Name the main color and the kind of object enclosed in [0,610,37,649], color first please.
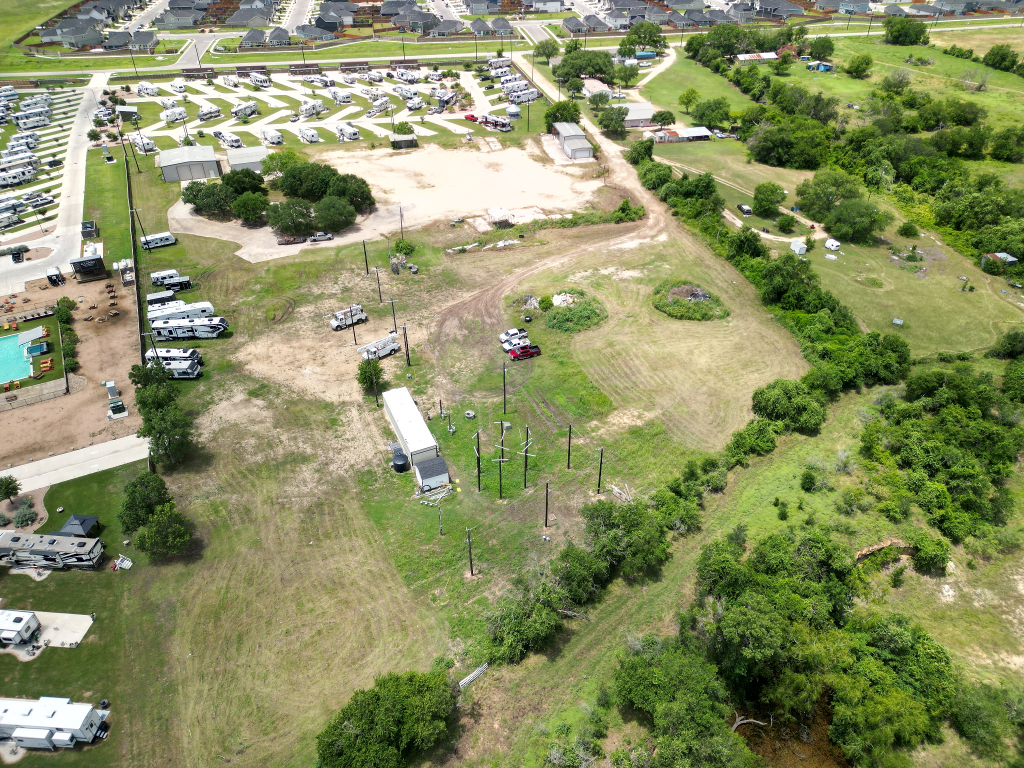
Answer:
white trailer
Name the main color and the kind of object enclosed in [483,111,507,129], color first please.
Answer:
white camper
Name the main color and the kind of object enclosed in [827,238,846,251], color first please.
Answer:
white vehicle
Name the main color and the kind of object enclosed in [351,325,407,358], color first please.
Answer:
white truck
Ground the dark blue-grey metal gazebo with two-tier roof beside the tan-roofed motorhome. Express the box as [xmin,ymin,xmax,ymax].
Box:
[60,516,105,535]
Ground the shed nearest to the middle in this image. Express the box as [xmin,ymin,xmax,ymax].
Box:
[418,452,455,489]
